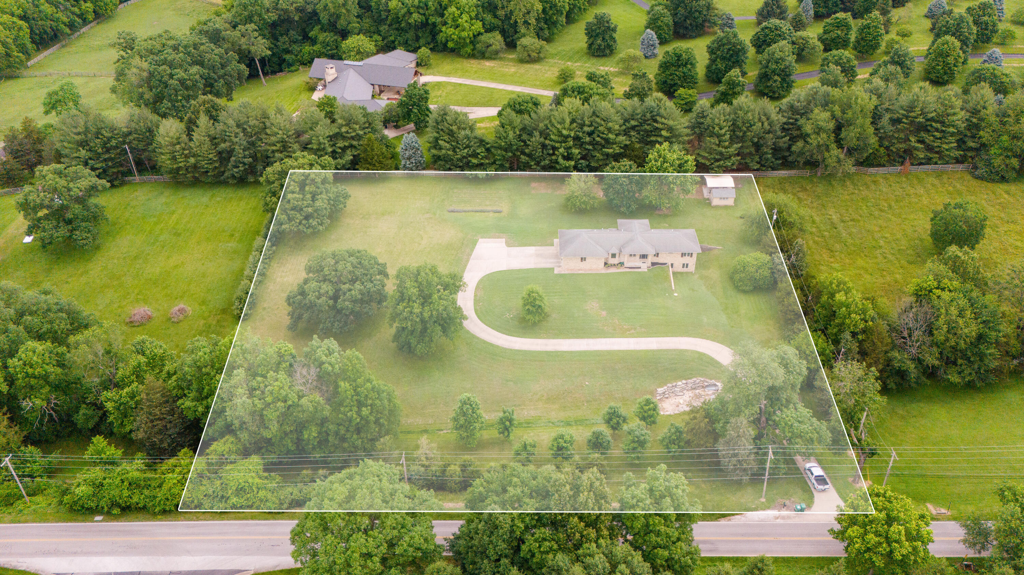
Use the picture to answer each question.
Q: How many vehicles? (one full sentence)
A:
The photo contains exactly 1 vehicle.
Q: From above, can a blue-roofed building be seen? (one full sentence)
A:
No, I find no blue-roofed building anywhere in the image.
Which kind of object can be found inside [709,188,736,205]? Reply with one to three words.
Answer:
shed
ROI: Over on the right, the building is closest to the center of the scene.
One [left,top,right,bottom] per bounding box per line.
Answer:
[557,219,702,274]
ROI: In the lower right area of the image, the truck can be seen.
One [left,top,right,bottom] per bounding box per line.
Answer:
[804,461,830,491]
